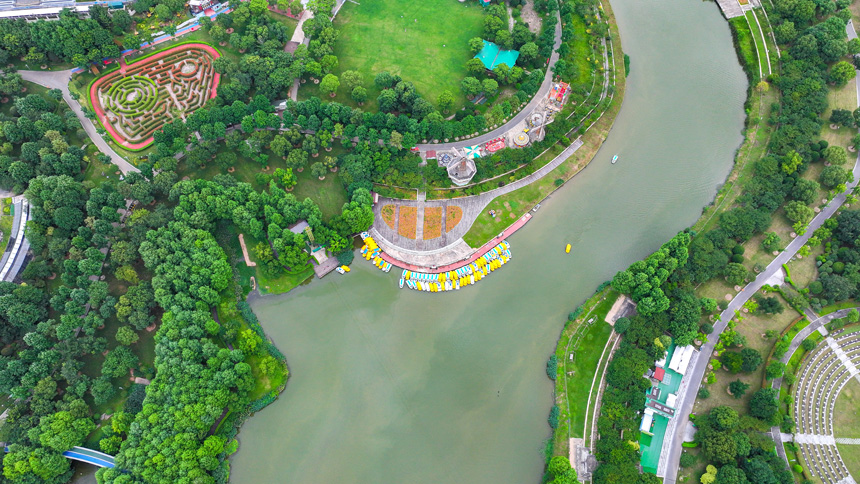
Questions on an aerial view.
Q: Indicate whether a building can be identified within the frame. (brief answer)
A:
Yes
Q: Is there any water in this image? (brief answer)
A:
Yes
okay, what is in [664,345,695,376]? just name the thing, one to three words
building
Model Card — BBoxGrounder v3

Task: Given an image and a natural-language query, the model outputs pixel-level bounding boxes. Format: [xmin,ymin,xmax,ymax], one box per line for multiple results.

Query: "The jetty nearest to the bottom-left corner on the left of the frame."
[313,249,338,279]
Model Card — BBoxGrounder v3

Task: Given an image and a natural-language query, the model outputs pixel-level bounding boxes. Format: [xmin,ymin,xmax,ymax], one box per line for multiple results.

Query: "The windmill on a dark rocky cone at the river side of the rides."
[530,108,557,143]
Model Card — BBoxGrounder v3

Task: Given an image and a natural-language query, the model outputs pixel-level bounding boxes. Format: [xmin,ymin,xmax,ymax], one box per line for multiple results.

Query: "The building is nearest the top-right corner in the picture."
[546,79,571,107]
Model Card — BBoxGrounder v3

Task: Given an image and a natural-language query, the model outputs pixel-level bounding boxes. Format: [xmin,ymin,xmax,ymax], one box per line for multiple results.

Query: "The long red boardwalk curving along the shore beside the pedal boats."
[379,213,532,274]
